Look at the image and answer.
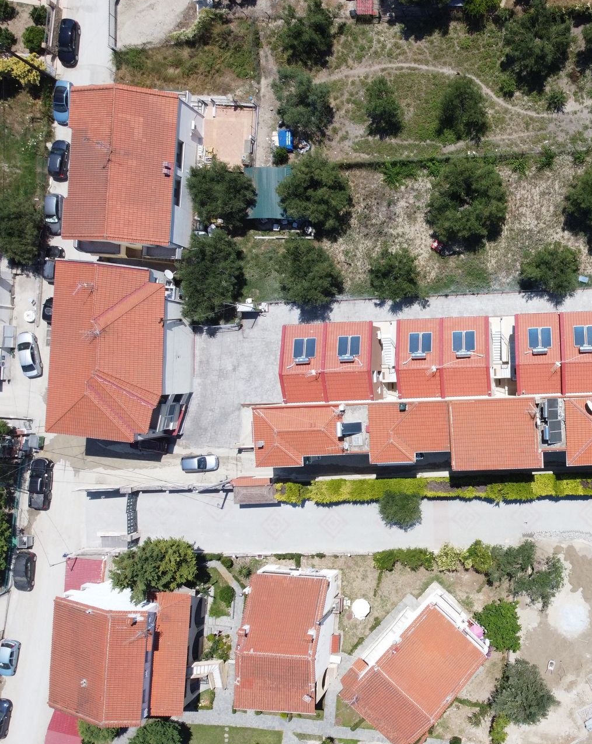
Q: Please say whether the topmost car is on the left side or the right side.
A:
left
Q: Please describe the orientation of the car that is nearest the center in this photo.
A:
from side to side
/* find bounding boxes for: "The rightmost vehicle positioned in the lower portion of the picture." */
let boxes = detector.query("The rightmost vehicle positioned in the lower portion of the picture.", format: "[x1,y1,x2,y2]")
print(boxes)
[179,452,222,474]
